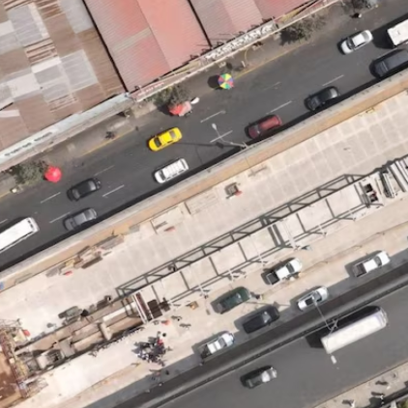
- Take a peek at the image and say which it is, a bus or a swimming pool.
bus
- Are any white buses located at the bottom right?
Yes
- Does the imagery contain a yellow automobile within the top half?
Yes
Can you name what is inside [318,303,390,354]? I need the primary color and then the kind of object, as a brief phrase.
white bus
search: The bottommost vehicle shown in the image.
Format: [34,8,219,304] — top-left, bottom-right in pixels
[242,363,279,390]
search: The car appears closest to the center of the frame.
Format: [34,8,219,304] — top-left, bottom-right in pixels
[152,157,190,183]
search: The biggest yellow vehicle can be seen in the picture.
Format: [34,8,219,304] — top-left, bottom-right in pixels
[148,125,184,151]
